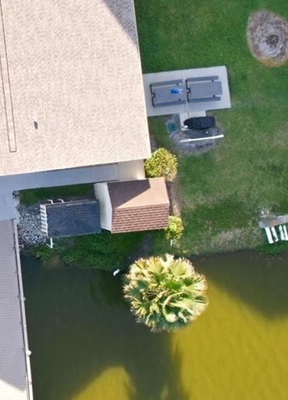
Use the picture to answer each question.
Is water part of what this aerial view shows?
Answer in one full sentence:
Yes, there's water in this view.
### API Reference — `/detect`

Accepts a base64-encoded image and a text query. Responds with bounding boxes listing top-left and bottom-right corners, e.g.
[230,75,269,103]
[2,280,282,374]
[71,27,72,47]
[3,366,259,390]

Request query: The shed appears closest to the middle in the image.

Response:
[100,177,174,234]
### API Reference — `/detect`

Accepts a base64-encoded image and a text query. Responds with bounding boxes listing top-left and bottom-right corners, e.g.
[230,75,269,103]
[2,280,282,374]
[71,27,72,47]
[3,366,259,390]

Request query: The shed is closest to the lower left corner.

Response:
[37,199,101,246]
